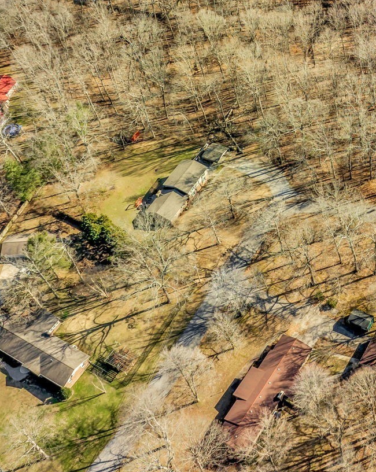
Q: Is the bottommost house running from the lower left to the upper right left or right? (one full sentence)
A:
You can find the bottommost house running from the lower left to the upper right on the right side of the picture.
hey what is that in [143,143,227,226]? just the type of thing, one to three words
house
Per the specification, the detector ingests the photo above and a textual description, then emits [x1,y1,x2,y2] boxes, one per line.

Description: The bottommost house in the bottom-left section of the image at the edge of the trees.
[0,310,90,389]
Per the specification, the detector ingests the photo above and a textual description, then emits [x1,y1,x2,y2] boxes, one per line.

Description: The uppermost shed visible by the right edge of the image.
[348,311,374,332]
